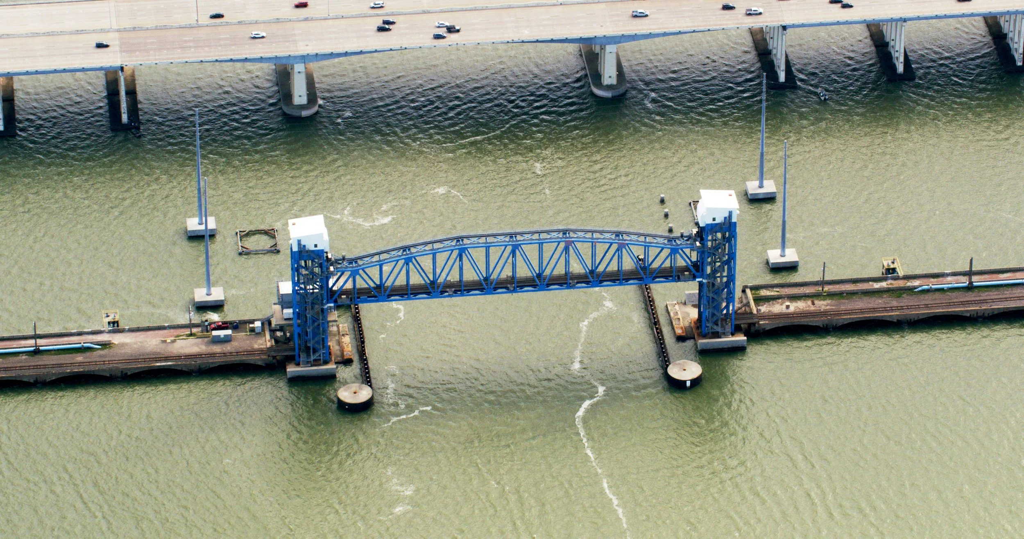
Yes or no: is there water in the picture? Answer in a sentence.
Yes, there is water in the image.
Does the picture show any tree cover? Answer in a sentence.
No, the scene doesn't show any tree cover.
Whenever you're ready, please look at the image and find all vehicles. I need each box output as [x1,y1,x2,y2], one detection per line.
[381,17,396,24]
[293,0,307,7]
[250,31,265,38]
[631,9,648,16]
[446,24,460,32]
[369,1,384,8]
[839,1,853,7]
[95,41,109,48]
[434,20,449,27]
[432,32,446,39]
[745,7,762,15]
[209,12,224,18]
[376,24,391,31]
[720,2,735,9]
